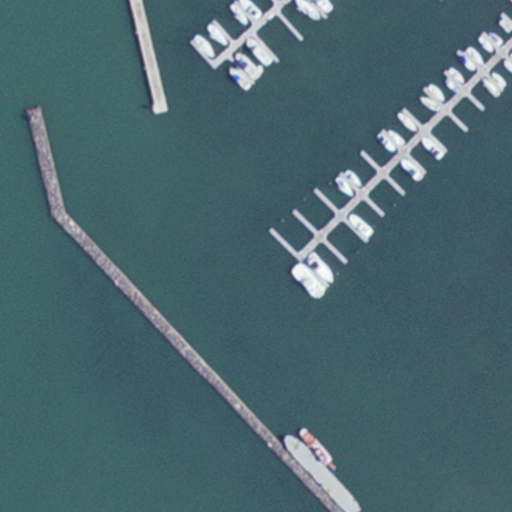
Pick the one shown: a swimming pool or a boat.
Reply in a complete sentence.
The image shows a boat.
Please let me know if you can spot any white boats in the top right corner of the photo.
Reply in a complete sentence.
Yes, in the top right corner of the photo there is a white boat.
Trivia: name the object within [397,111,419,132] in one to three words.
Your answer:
boat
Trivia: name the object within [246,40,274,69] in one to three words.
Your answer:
boat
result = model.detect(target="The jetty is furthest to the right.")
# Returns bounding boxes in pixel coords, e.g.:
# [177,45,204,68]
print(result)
[274,12,512,284]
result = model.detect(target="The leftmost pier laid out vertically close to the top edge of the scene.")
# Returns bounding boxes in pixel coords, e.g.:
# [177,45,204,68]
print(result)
[130,0,167,115]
